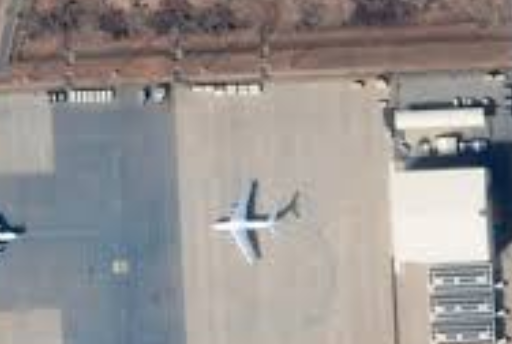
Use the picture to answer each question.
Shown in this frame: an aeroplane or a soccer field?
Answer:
aeroplane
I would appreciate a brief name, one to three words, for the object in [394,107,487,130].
shed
